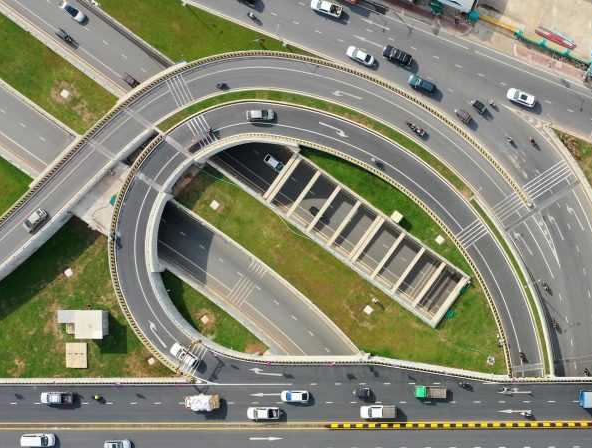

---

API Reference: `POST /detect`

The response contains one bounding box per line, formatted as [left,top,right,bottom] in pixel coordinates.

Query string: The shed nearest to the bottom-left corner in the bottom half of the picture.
[58,309,116,339]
